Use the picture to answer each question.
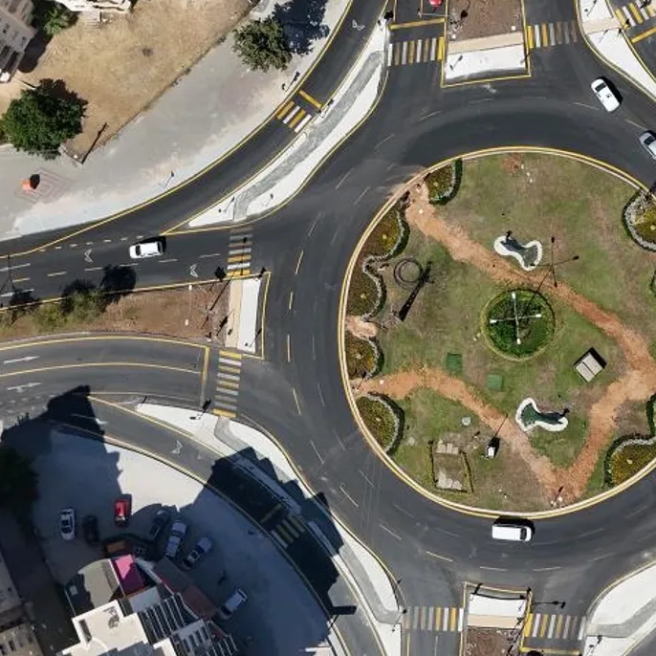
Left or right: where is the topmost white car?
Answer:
right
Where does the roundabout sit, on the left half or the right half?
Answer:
right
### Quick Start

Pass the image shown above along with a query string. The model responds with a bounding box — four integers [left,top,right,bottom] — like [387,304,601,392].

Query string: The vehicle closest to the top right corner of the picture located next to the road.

[593,78,620,112]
